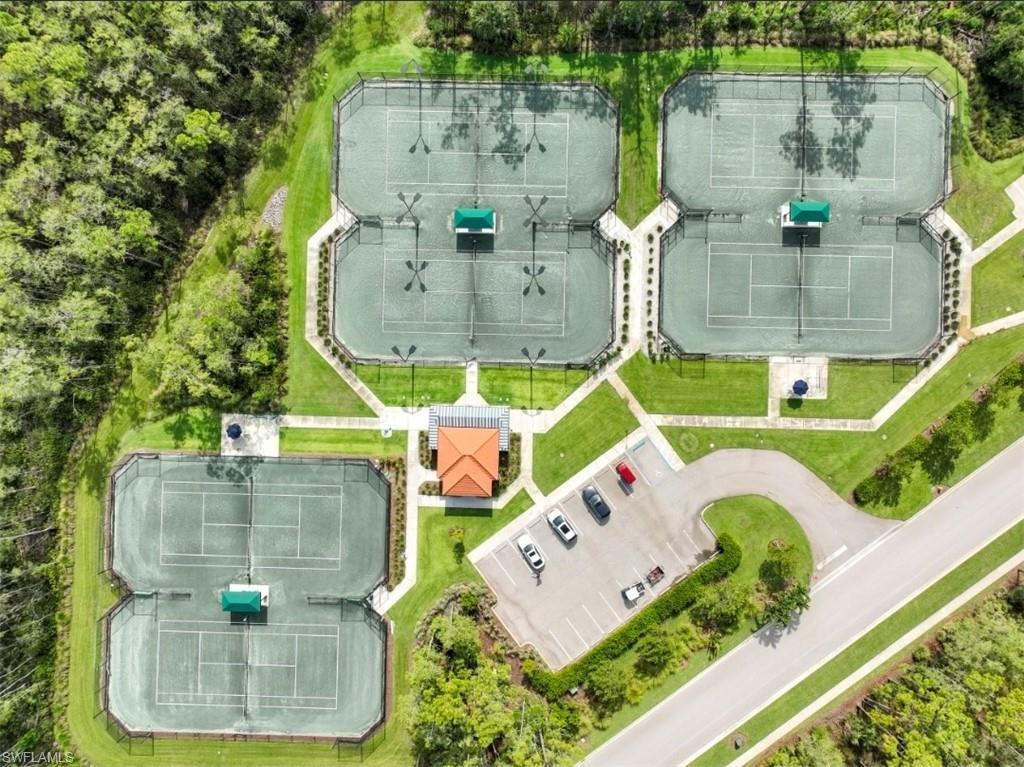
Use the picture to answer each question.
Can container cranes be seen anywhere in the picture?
No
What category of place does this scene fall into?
sports ground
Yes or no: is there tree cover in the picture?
Yes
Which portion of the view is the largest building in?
center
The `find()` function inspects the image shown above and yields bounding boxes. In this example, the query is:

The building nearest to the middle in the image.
[429,405,510,496]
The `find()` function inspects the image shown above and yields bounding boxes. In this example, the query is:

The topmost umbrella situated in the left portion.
[226,423,242,439]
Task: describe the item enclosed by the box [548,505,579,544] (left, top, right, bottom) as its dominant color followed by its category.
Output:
white car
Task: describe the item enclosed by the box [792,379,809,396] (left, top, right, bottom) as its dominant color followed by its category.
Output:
blue umbrella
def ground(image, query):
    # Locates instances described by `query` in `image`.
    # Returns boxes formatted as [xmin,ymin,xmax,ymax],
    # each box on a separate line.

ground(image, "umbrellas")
[226,423,242,439]
[792,379,809,396]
